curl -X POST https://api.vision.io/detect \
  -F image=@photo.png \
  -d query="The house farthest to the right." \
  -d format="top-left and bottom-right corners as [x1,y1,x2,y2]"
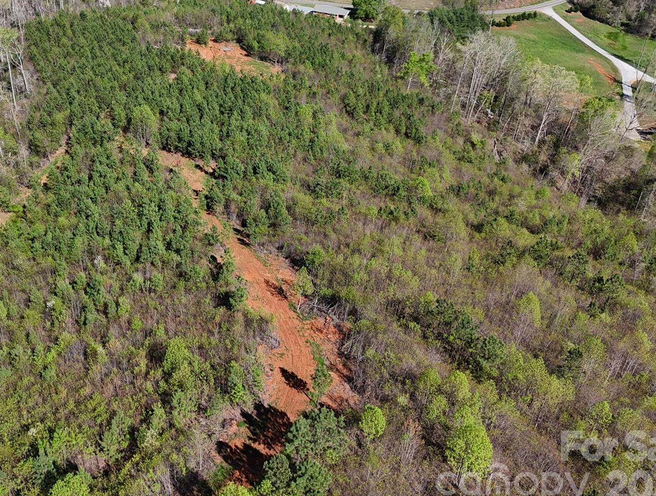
[312,2,354,20]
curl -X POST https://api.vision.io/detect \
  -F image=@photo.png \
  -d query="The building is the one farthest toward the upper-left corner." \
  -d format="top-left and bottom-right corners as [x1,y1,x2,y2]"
[286,0,314,16]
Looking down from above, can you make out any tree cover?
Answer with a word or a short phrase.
Yes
